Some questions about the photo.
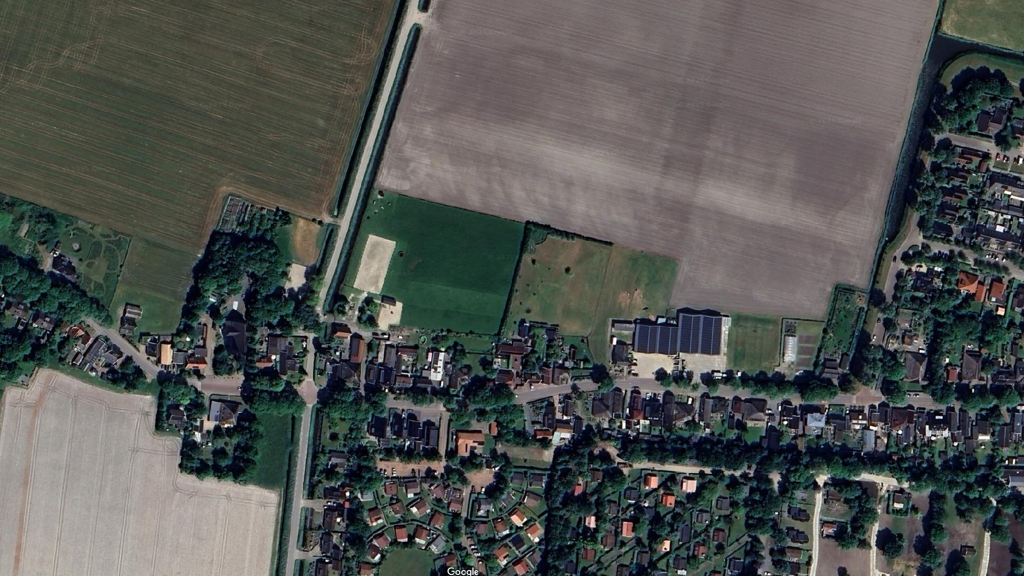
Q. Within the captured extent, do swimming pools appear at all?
No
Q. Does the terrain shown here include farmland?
Yes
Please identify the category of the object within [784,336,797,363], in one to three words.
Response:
greenhouse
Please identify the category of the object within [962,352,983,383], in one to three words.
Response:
house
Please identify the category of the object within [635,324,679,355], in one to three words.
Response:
building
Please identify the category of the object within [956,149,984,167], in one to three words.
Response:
house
